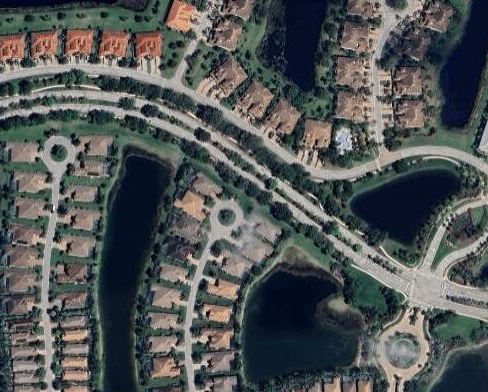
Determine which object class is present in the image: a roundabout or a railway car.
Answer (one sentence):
Visible in the photo is a roundabout.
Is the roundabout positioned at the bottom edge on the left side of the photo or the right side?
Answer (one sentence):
The roundabout positioned at the bottom edge sits on the right side.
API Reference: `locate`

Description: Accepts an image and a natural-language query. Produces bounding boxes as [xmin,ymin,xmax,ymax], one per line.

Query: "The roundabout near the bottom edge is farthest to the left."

[376,324,429,376]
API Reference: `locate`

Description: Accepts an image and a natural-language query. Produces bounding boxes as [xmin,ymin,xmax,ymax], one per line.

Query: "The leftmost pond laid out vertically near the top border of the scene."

[286,0,330,92]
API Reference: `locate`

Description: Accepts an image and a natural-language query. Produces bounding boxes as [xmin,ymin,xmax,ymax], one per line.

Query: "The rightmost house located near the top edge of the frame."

[416,0,458,33]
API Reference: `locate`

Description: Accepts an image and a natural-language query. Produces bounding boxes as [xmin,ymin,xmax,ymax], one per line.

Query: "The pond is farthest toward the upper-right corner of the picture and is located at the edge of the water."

[441,0,488,129]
